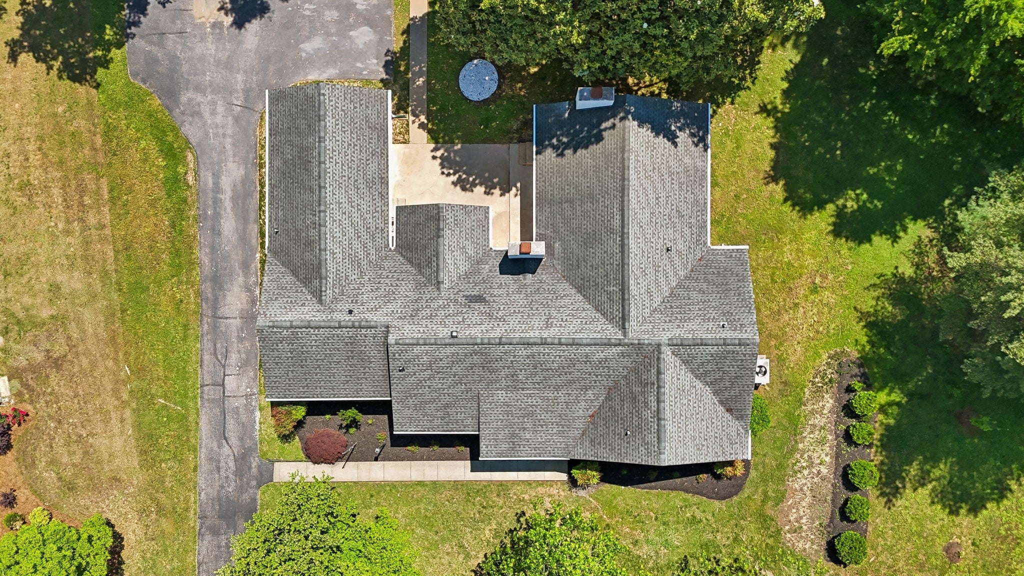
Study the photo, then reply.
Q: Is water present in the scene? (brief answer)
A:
No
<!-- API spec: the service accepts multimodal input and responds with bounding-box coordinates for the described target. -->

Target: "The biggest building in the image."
[255,83,763,467]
